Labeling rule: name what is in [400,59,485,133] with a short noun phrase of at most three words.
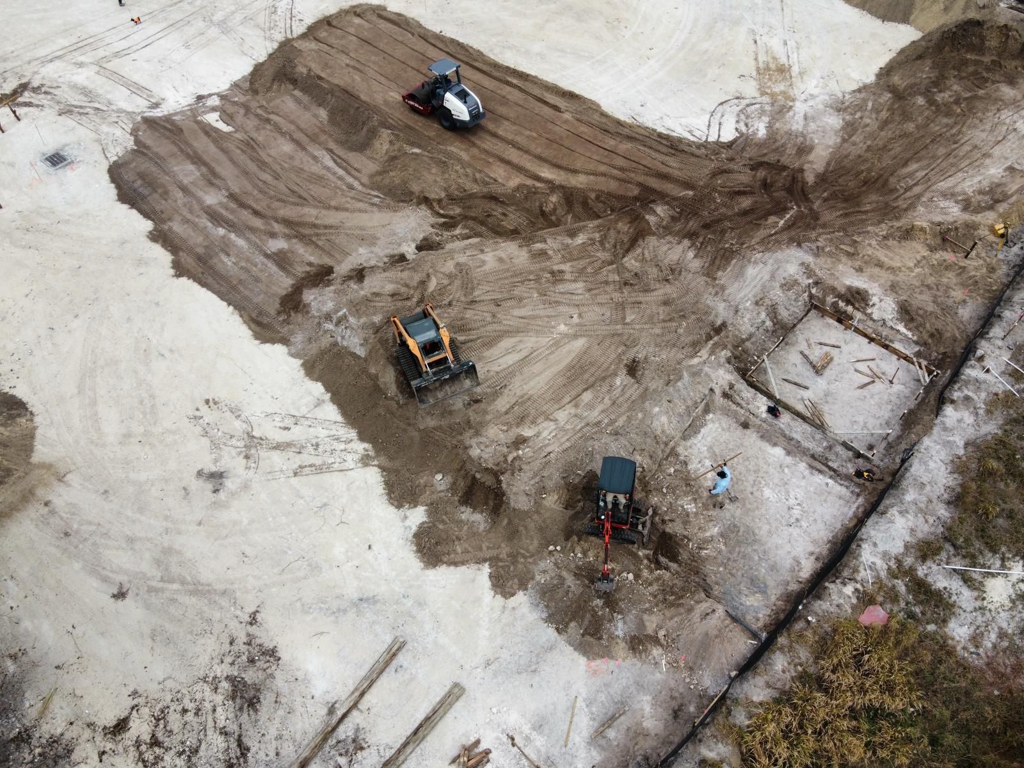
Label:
work vehicle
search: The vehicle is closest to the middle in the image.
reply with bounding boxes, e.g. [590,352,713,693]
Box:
[388,305,480,412]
